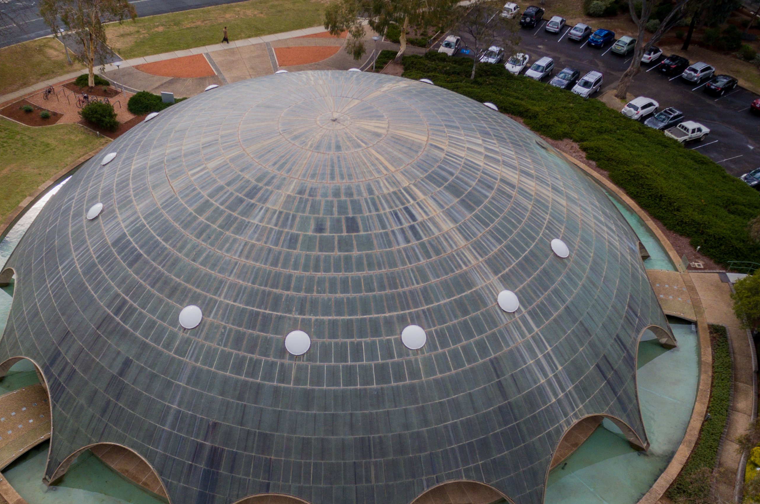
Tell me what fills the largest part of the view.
buildings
